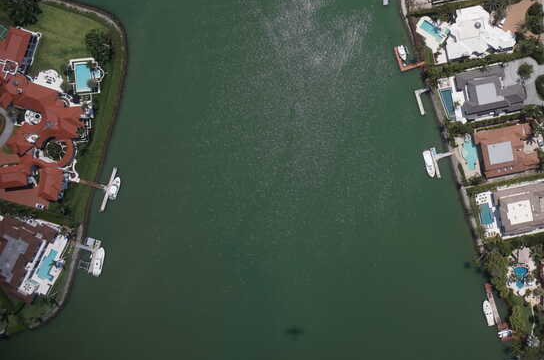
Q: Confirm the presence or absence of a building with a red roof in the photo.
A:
Yes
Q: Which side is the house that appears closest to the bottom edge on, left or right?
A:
left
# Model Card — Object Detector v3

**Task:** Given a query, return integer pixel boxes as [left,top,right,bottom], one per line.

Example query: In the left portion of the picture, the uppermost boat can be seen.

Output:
[107,177,120,202]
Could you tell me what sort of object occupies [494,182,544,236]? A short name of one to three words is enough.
house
